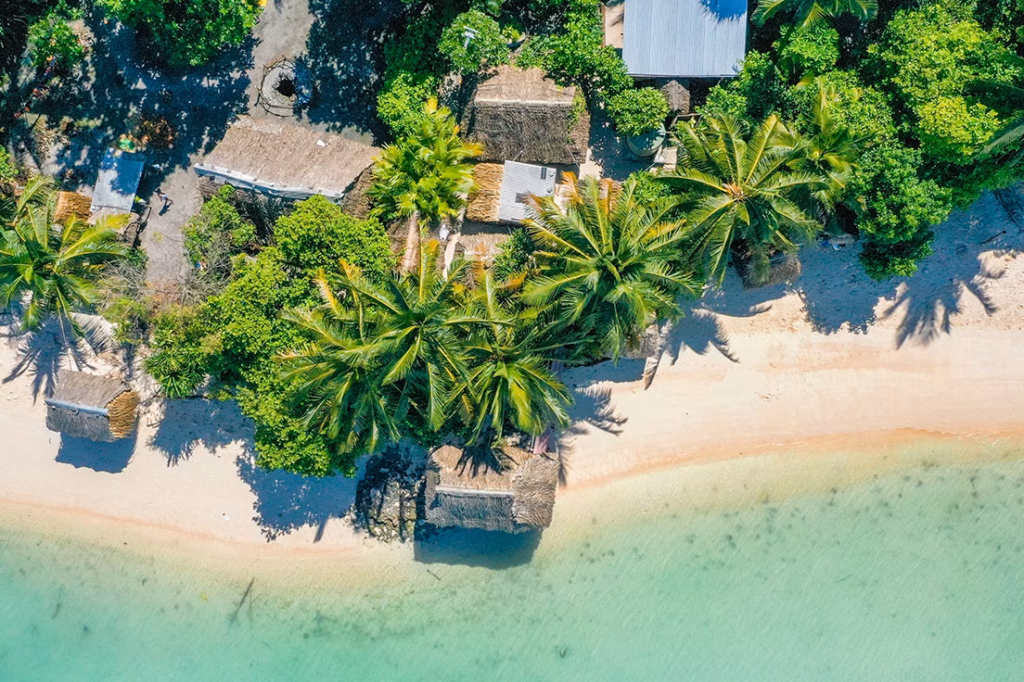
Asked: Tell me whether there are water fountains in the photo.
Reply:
No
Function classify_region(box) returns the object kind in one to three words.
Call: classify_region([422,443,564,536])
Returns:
shed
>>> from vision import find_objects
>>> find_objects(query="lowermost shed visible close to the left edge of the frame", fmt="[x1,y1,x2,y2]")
[42,369,145,445]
